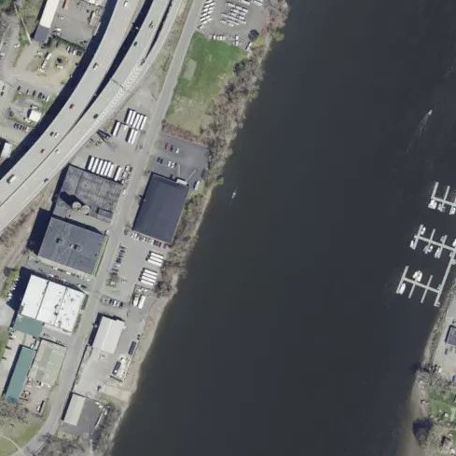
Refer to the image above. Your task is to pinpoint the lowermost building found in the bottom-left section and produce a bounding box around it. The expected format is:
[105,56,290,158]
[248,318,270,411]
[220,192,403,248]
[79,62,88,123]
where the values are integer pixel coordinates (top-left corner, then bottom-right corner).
[63,394,85,426]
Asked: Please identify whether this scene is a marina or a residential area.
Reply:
marina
